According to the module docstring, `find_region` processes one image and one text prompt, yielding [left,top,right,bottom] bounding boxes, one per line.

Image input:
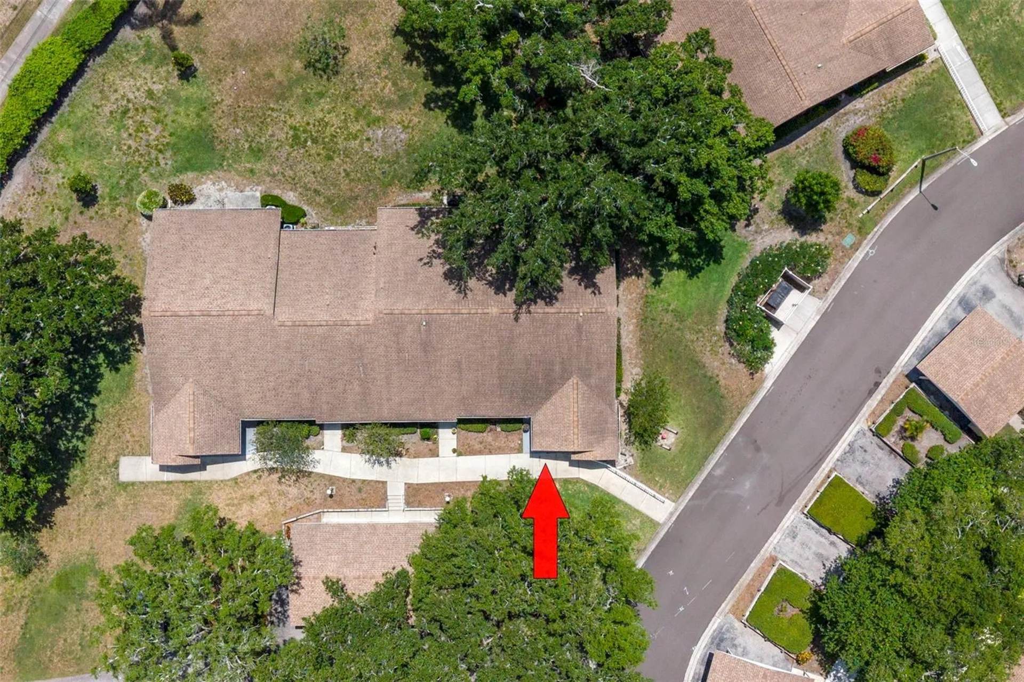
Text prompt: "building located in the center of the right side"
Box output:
[915,306,1024,439]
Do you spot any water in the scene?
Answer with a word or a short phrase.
No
